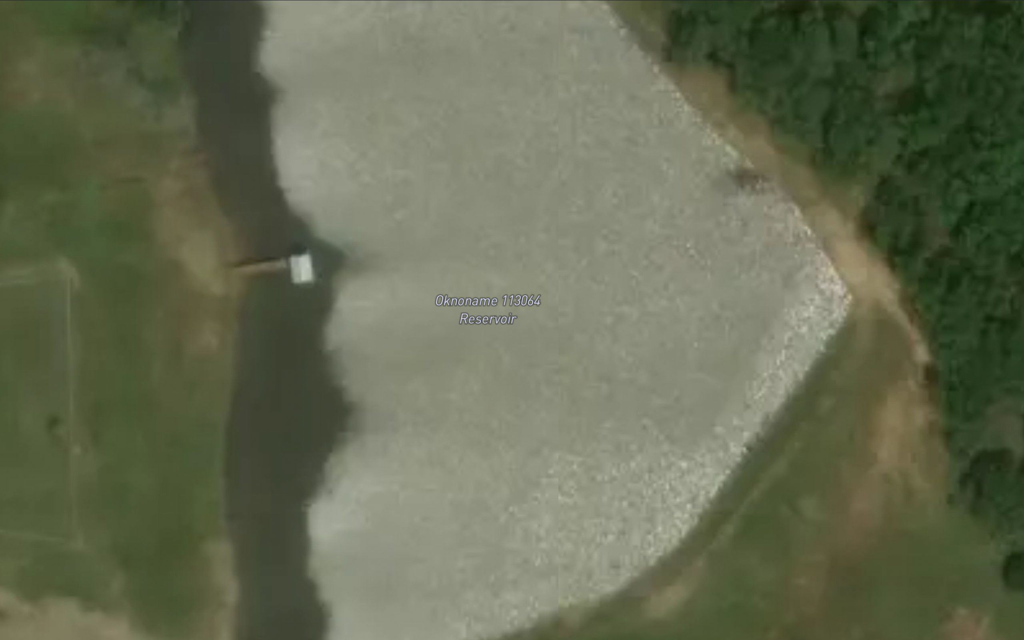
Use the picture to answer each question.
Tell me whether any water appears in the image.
Yes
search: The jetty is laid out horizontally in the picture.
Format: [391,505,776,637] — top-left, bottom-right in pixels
[235,259,287,274]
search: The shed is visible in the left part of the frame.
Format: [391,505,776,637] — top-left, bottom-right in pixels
[291,253,311,282]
